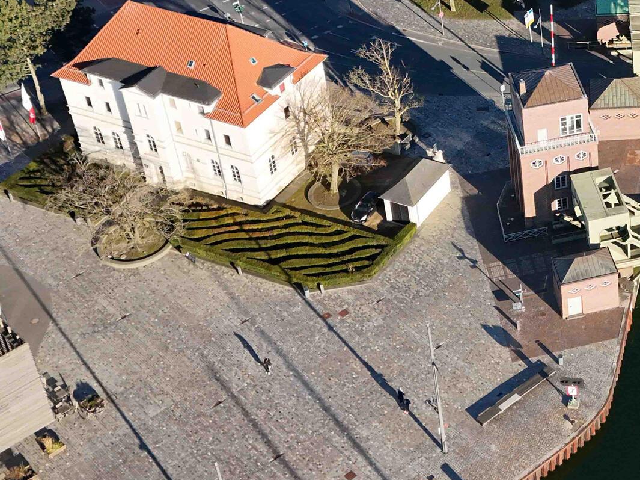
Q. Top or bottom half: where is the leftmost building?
bottom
